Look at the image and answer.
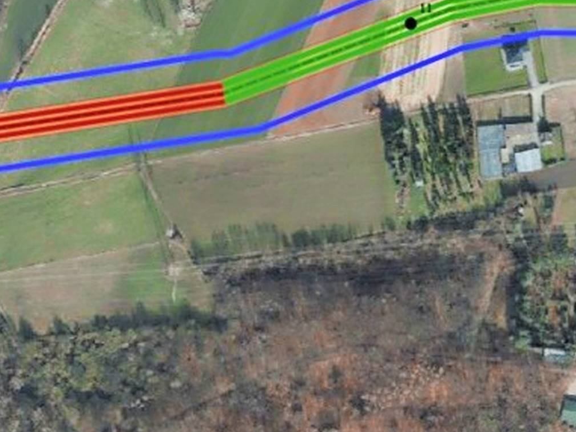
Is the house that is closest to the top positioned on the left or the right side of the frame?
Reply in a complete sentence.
You can find the house that is closest to the top on the right side of the picture.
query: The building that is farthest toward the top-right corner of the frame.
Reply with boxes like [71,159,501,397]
[506,42,530,65]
